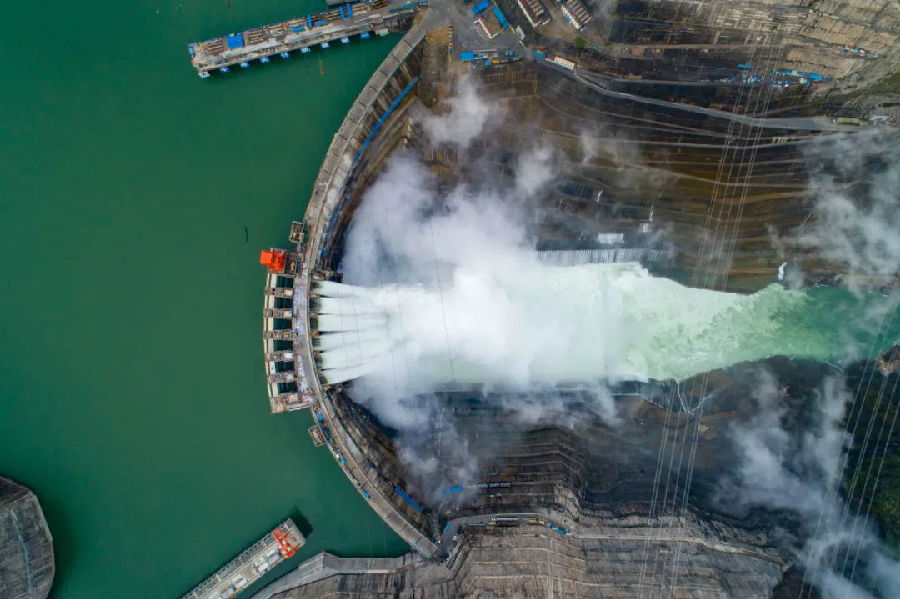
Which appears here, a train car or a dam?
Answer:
dam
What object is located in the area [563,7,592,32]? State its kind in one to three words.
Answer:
building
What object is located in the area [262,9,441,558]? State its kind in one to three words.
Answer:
dam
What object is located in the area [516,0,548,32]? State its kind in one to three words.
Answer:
building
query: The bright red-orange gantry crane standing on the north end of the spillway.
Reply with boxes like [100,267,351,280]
[255,252,289,271]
